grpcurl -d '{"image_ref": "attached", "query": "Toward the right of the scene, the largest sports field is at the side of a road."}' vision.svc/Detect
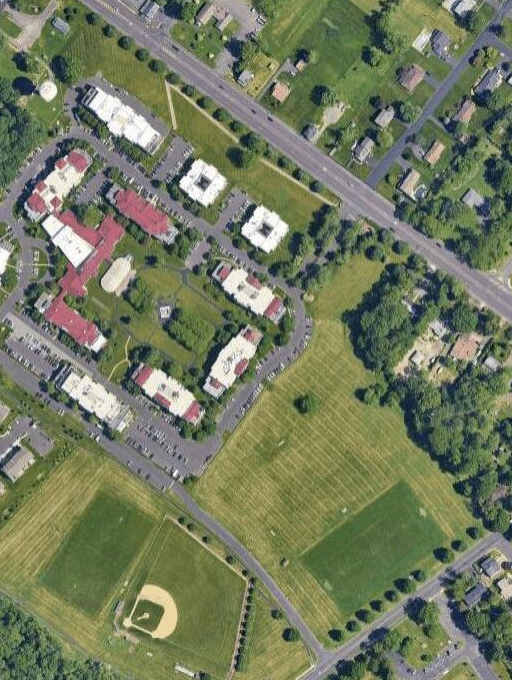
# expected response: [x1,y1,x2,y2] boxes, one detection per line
[193,321,486,648]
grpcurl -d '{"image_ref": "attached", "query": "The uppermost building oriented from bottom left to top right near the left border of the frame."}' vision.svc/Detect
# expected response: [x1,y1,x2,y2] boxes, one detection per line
[24,149,94,224]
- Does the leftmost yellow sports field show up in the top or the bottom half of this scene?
bottom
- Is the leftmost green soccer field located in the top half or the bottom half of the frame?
bottom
